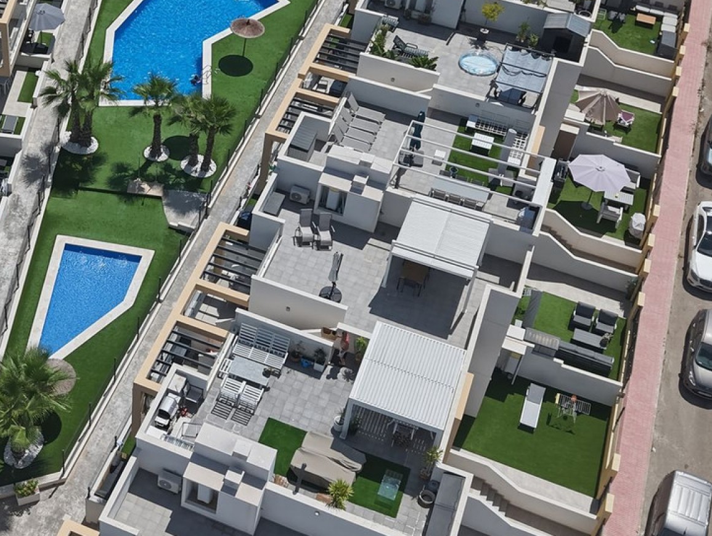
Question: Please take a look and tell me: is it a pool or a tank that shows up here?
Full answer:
The one in the frame is a pool.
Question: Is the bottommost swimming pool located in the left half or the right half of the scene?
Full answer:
The bottommost swimming pool appears in the left half of the scene.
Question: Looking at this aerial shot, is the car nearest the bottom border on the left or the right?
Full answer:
It is on the right.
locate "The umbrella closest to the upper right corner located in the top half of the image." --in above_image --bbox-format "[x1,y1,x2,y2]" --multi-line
[588,94,643,137]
